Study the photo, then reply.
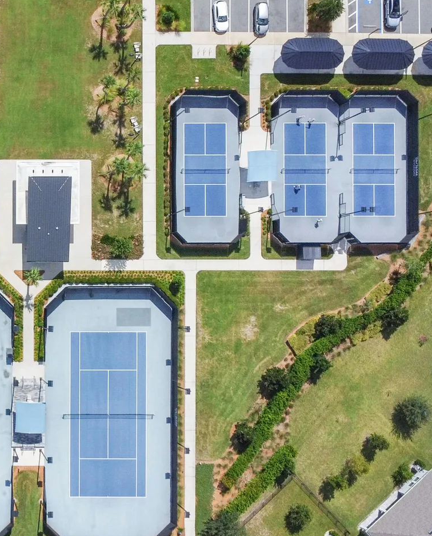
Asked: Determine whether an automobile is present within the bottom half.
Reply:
No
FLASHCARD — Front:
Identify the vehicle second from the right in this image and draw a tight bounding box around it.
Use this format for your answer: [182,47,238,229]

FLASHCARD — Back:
[252,3,269,37]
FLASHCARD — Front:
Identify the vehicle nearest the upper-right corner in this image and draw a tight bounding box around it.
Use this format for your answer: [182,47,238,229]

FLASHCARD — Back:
[378,0,402,29]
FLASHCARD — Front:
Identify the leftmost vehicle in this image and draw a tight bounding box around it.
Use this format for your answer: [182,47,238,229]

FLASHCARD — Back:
[212,2,229,34]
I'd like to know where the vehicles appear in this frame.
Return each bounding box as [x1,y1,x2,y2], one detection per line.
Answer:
[252,3,269,37]
[378,0,402,29]
[212,2,229,34]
